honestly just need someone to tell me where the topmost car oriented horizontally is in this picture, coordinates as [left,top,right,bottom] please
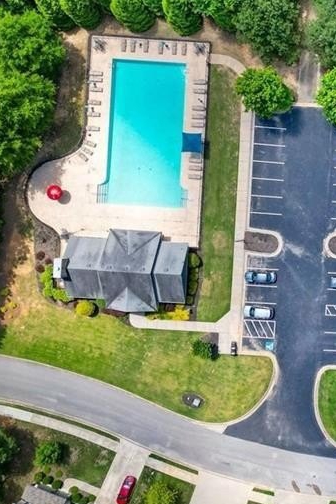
[246,270,277,284]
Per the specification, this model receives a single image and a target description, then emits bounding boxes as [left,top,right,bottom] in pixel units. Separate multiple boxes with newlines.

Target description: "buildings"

[51,230,194,312]
[13,481,75,504]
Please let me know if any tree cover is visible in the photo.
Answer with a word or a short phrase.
Yes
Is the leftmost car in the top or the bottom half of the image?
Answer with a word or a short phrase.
bottom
